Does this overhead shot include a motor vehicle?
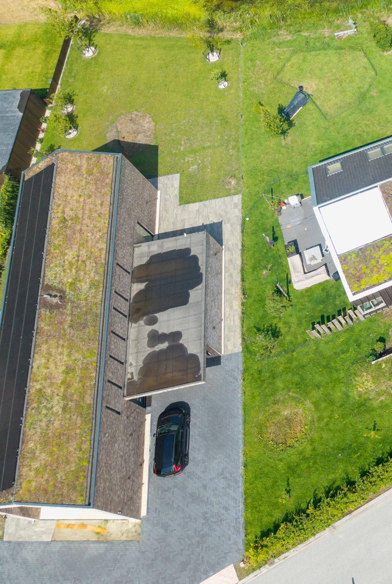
Yes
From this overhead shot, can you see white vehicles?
No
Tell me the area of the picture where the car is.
bottom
